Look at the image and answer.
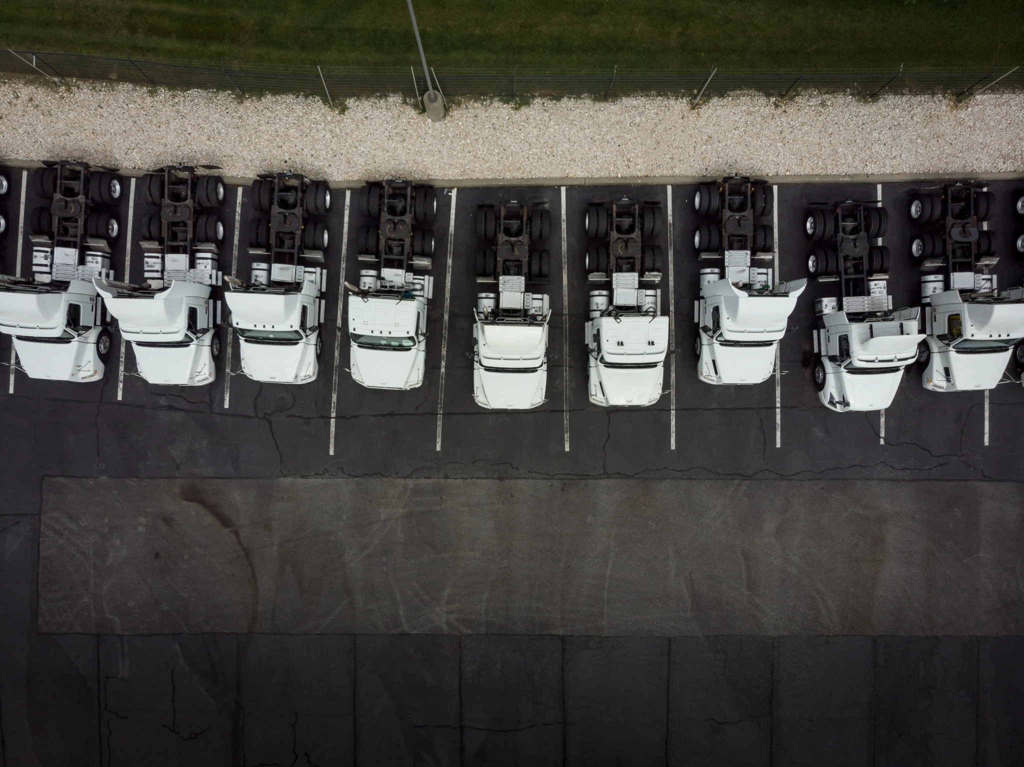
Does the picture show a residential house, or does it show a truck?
truck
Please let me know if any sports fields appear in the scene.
No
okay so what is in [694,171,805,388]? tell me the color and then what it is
white truck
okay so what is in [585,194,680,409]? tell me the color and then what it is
white truck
